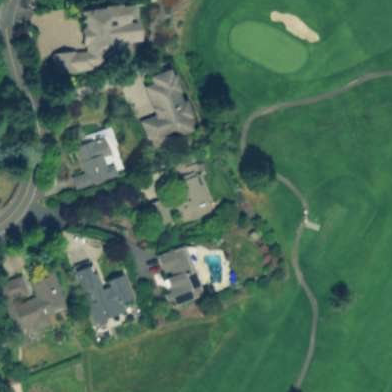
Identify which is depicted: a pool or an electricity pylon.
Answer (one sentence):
This aerial view contains a pool.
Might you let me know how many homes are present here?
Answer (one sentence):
Altogether the scene contains 7 homes.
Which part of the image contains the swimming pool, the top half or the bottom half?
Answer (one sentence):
Seen from above, the swimming pool lies in the bottom half of the view.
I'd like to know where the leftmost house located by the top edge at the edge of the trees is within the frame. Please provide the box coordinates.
[52,4,146,78]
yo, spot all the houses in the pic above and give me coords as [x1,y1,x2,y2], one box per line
[71,125,128,188]
[72,260,136,328]
[157,245,205,304]
[52,4,146,78]
[4,273,66,336]
[176,176,210,225]
[138,66,199,148]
